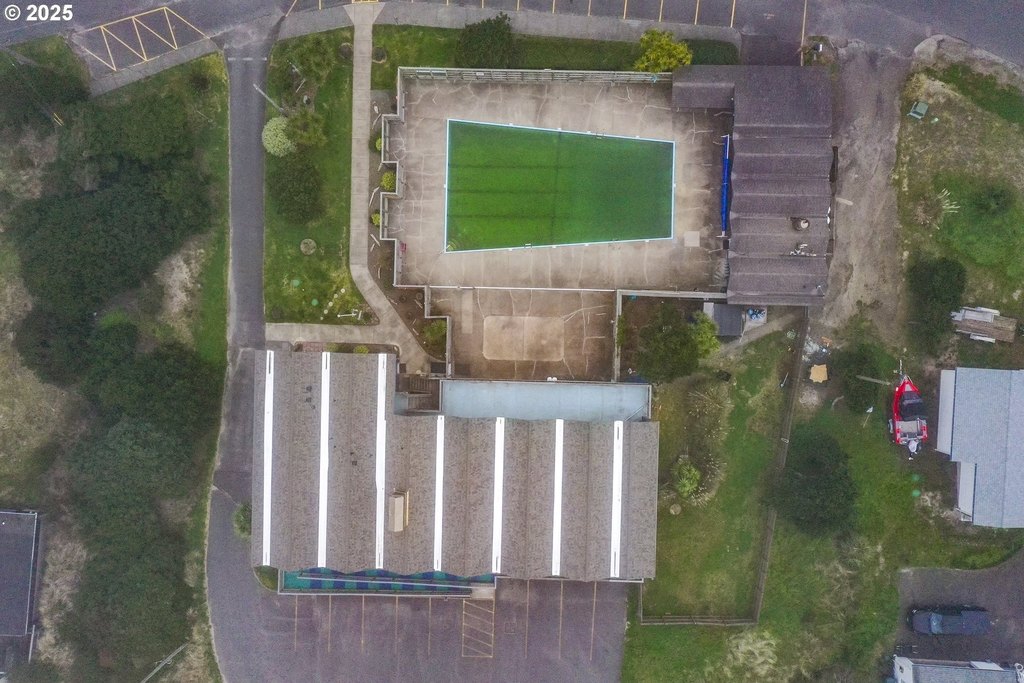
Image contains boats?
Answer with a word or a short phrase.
Yes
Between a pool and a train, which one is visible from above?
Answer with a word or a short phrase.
pool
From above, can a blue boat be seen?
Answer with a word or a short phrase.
No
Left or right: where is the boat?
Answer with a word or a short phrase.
right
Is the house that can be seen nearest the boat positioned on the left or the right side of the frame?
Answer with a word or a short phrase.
right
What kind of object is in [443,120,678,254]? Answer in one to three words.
swimming pool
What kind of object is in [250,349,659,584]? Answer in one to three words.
building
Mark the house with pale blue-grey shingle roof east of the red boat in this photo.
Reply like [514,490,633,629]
[936,366,1024,528]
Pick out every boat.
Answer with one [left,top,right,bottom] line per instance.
[892,376,930,455]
